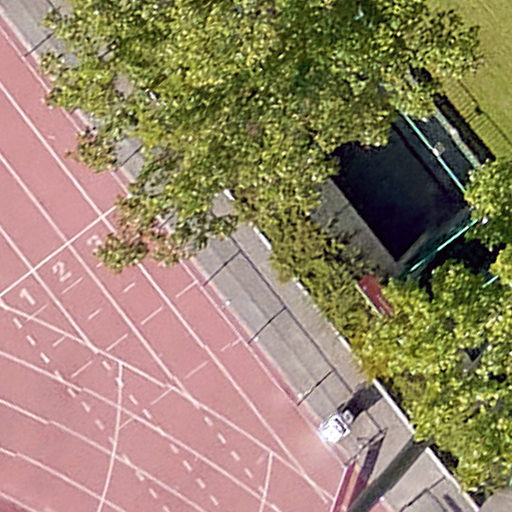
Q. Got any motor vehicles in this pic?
No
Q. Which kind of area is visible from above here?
sports ground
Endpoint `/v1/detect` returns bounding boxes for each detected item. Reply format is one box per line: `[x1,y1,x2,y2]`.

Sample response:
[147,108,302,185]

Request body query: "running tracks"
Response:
[0,14,390,512]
